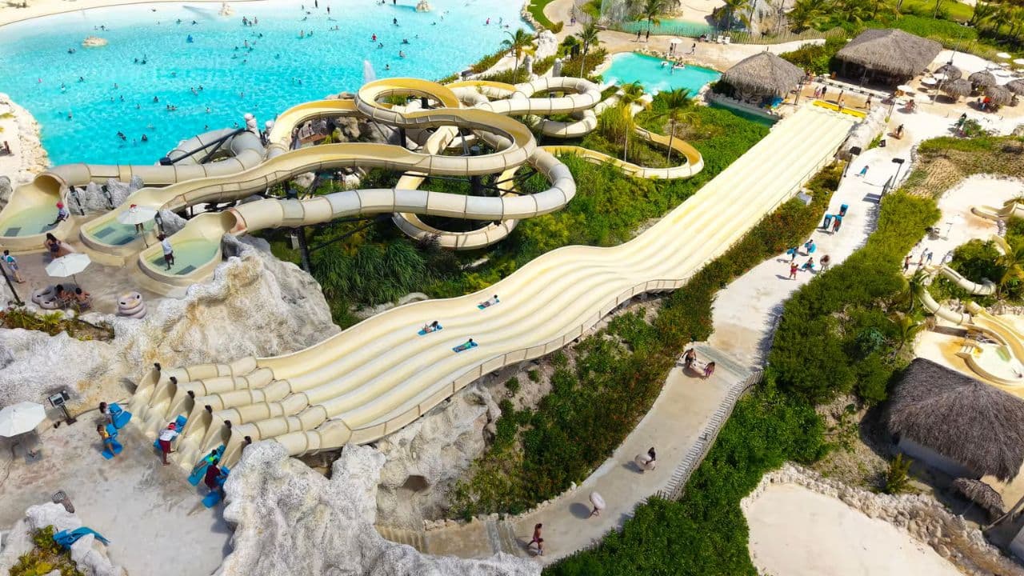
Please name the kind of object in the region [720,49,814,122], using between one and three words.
shed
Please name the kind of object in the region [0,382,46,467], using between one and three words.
umbrella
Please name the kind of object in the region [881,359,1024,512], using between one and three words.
shed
